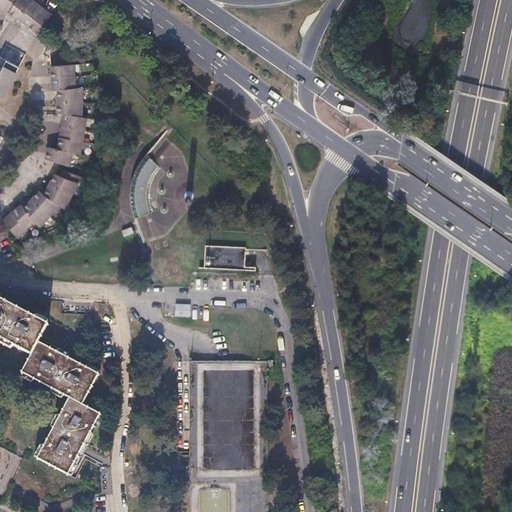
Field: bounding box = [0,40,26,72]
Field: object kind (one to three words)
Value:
swimming pool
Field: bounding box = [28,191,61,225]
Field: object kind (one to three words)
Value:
house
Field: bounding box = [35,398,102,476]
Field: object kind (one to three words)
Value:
building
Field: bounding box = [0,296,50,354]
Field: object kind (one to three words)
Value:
building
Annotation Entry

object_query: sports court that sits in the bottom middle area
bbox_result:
[197,362,260,477]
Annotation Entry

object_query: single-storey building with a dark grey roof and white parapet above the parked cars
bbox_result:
[199,246,266,272]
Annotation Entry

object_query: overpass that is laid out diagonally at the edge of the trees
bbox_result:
[396,128,512,276]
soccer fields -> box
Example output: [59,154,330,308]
[191,483,236,512]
